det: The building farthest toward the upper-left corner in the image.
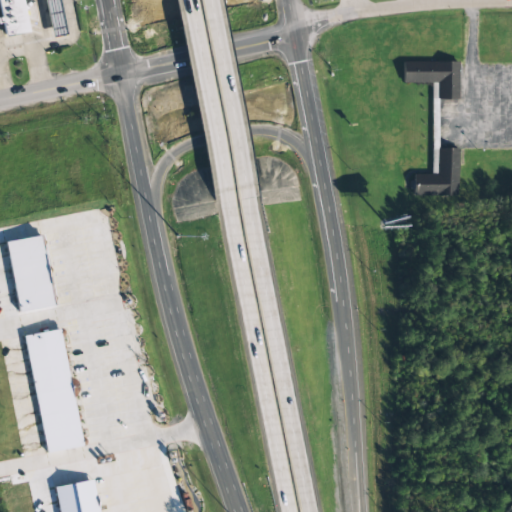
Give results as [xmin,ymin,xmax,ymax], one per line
[0,0,32,35]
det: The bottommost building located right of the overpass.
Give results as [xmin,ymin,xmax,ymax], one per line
[414,148,461,196]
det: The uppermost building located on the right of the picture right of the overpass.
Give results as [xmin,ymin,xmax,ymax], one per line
[404,60,461,99]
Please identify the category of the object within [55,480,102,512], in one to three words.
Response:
building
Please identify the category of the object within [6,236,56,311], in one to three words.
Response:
building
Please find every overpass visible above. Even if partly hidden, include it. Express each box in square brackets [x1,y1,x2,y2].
[180,0,261,202]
